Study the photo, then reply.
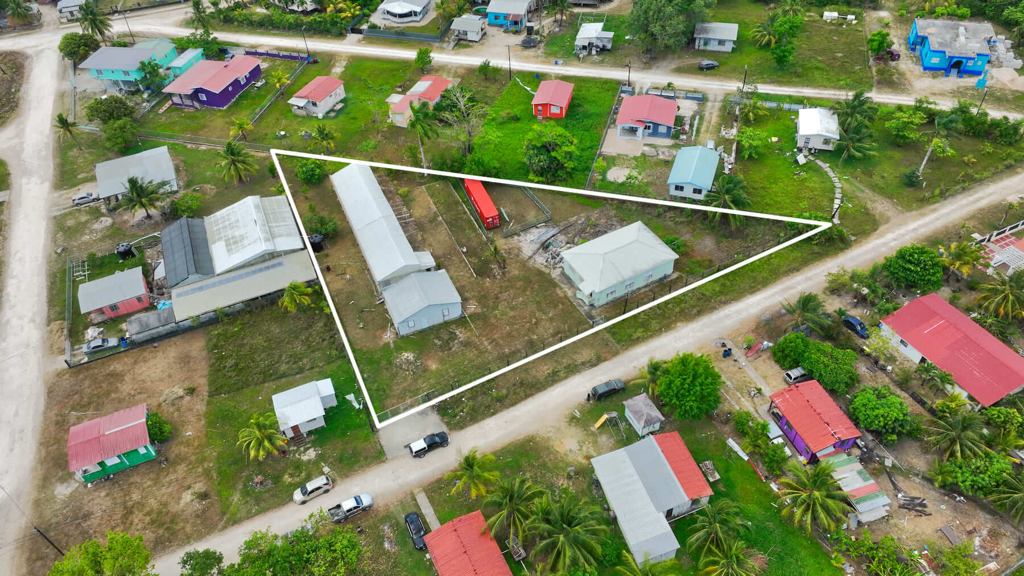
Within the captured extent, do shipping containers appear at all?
Yes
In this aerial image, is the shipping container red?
Yes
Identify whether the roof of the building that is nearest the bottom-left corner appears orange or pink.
pink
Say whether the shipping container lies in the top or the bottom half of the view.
top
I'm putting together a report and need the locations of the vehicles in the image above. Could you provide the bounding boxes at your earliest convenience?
[590,379,627,400]
[82,337,121,355]
[292,474,334,505]
[70,192,100,207]
[697,59,720,70]
[326,493,376,525]
[401,508,429,553]
[782,363,818,386]
[836,315,874,340]
[400,431,452,459]
[887,47,903,61]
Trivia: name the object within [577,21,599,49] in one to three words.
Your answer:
house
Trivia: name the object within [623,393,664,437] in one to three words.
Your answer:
shed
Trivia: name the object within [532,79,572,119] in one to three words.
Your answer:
house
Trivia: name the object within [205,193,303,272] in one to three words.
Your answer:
building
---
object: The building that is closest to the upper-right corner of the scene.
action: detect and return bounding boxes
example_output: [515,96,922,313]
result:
[906,17,997,86]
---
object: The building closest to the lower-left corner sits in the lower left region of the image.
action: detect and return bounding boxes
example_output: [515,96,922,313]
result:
[65,403,156,480]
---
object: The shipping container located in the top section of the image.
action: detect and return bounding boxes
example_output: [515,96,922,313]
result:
[463,173,500,230]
